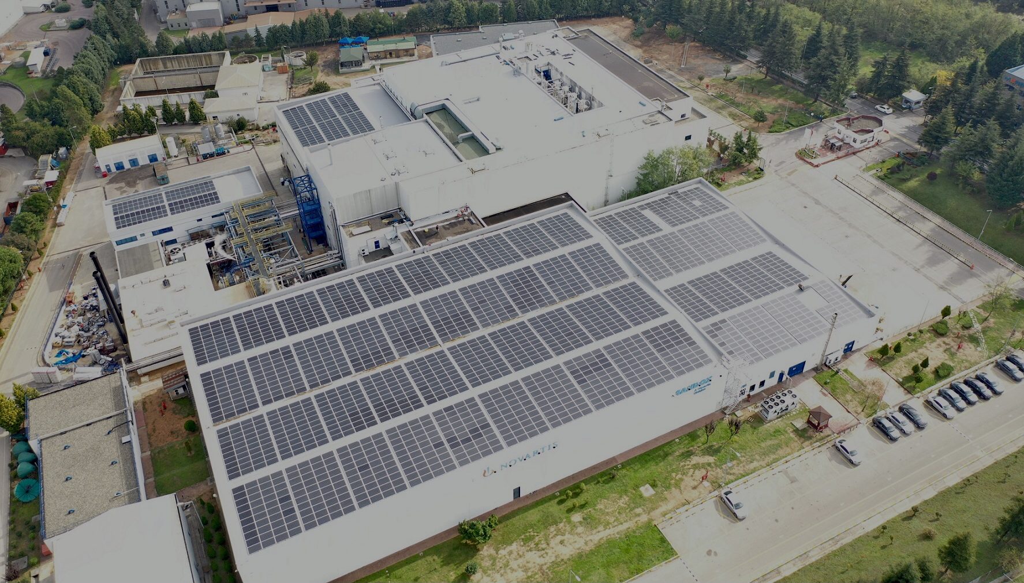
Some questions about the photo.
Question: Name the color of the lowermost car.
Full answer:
In this view, the lowermost car is white.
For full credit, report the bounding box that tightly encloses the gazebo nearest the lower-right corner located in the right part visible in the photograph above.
[807,406,835,433]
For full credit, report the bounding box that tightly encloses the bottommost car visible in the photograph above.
[719,491,749,521]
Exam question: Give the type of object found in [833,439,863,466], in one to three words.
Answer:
car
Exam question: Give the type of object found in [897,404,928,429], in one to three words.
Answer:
car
